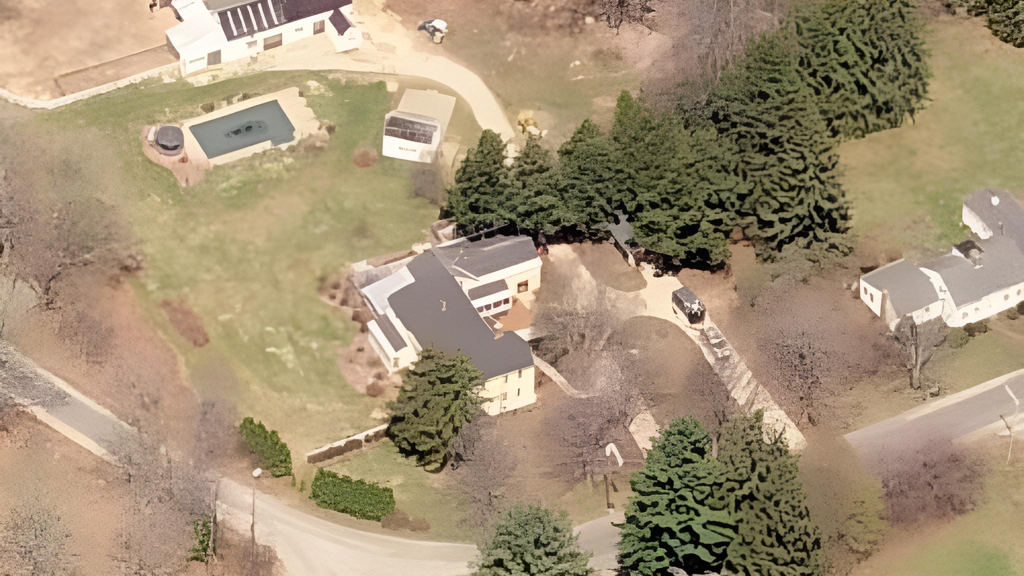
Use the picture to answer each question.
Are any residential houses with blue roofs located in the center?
No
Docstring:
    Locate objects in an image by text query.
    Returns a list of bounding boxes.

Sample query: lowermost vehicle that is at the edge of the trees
[670,282,709,330]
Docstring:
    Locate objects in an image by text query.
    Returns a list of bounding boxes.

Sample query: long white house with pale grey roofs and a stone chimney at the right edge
[859,174,1024,337]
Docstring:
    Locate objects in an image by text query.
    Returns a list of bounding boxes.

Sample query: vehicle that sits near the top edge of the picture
[426,14,446,44]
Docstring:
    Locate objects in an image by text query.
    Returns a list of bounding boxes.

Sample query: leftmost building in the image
[167,0,361,78]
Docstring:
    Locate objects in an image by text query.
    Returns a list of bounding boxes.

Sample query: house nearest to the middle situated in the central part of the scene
[359,217,544,424]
